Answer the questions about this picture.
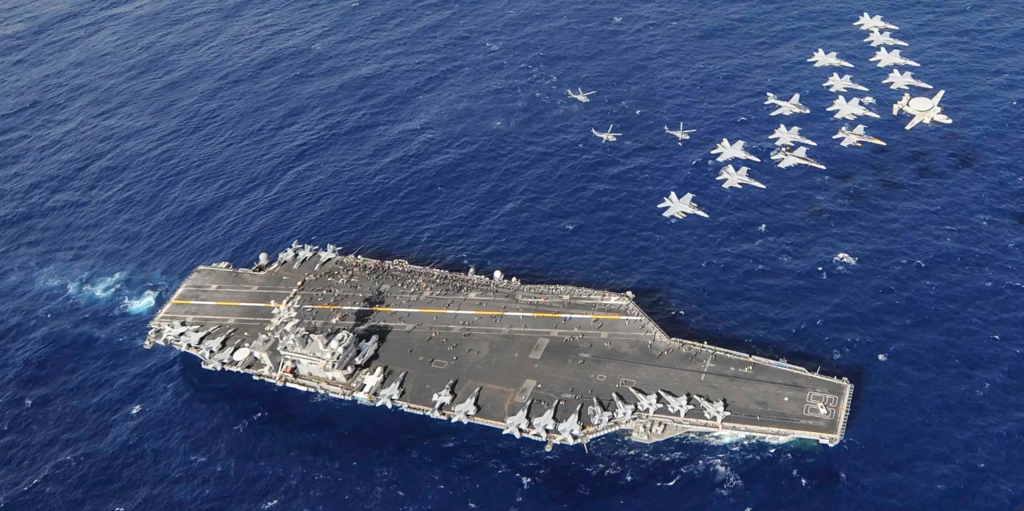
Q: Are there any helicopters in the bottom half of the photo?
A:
No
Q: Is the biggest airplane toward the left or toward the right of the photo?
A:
right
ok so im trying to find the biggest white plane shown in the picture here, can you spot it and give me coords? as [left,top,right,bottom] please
[892,87,955,133]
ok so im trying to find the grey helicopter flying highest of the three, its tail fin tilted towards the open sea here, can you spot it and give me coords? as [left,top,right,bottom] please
[569,84,598,103]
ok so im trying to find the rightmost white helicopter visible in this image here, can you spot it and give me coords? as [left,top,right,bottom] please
[662,121,694,143]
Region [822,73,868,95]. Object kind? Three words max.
airplane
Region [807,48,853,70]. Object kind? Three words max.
airplane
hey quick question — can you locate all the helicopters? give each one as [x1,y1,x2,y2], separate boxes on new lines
[569,84,598,103]
[662,121,694,143]
[593,122,624,144]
